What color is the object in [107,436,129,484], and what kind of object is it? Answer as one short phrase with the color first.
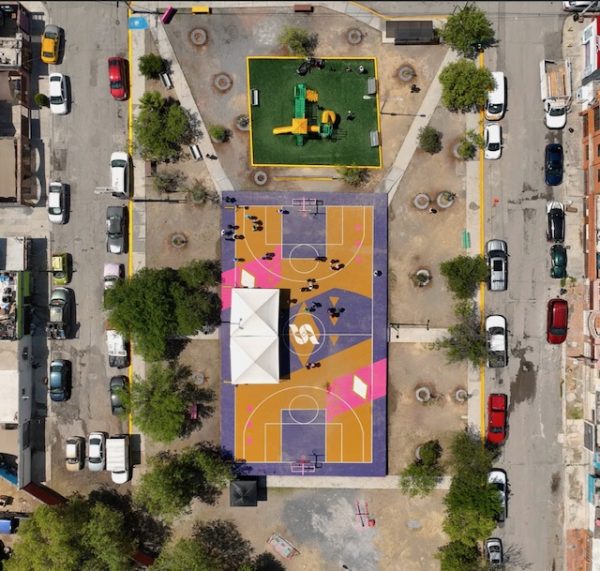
white truck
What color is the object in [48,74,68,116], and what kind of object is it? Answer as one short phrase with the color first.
white car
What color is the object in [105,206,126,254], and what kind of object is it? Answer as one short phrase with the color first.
gray vehicle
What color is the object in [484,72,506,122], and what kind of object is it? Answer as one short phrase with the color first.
white vehicle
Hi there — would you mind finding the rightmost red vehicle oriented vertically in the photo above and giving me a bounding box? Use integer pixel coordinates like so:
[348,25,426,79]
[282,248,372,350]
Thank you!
[546,298,568,345]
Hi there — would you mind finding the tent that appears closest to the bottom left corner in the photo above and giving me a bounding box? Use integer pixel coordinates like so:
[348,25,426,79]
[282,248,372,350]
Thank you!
[230,476,259,507]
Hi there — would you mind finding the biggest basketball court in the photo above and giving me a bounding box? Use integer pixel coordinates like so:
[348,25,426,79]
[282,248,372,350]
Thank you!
[220,192,387,476]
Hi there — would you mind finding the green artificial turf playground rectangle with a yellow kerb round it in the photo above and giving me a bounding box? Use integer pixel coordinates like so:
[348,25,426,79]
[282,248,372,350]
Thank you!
[247,56,383,167]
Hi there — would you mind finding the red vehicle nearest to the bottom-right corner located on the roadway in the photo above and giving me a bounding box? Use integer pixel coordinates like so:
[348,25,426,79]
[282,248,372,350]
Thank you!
[486,393,507,444]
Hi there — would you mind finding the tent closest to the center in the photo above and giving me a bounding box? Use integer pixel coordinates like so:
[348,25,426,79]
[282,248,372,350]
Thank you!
[231,289,281,336]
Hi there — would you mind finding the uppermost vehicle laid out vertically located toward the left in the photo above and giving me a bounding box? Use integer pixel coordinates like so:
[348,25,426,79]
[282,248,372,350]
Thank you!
[42,25,62,66]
